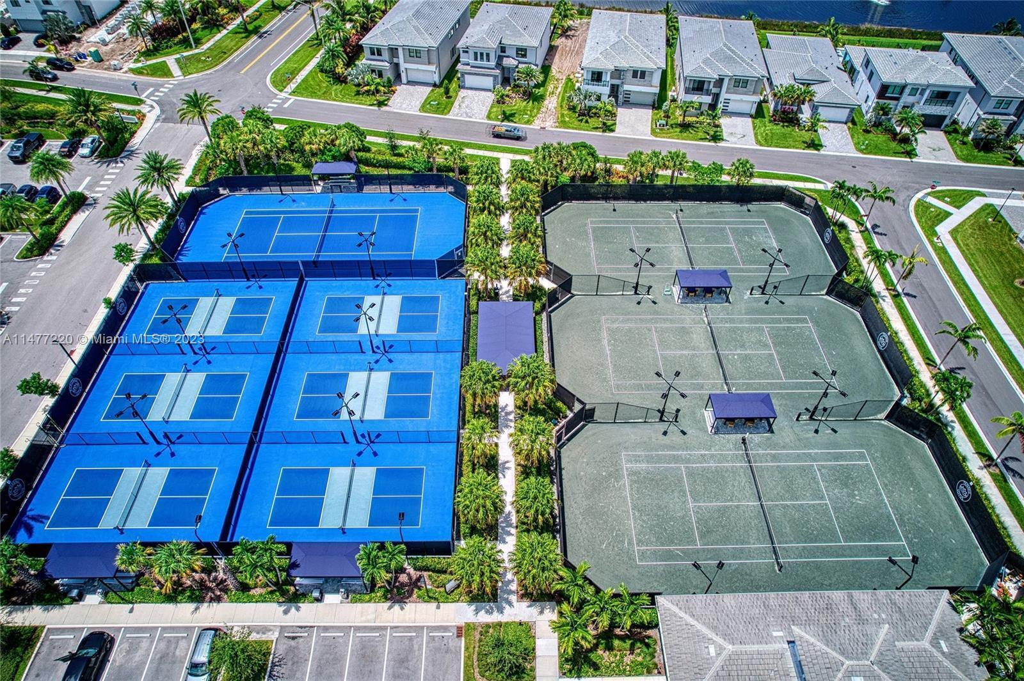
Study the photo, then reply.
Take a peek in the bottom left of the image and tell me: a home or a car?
car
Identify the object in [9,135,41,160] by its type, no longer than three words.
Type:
truck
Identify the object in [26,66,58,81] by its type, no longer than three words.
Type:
car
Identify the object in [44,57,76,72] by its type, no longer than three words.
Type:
car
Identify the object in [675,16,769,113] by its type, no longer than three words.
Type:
house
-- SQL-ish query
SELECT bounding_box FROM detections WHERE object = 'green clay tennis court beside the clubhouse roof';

[561,420,990,594]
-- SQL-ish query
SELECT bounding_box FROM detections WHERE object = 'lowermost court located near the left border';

[16,444,255,544]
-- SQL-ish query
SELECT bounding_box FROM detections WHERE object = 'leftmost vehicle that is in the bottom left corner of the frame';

[56,633,109,681]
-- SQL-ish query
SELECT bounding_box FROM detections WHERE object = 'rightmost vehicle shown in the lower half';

[182,632,224,681]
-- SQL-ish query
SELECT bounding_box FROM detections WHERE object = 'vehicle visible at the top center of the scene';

[491,126,529,144]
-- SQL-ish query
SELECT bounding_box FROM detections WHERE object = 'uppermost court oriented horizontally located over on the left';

[174,192,464,280]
